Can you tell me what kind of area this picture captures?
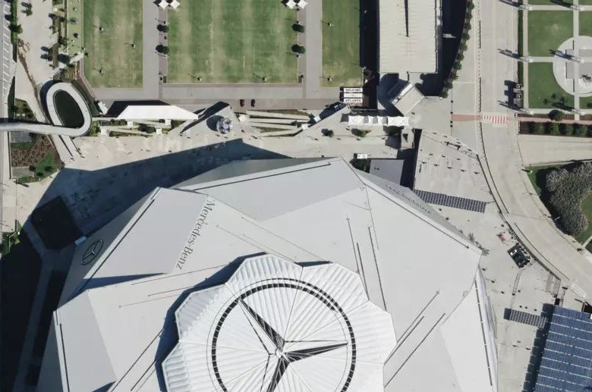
sports ground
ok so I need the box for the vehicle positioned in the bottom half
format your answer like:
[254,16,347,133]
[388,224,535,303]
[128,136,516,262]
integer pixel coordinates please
[509,243,533,266]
